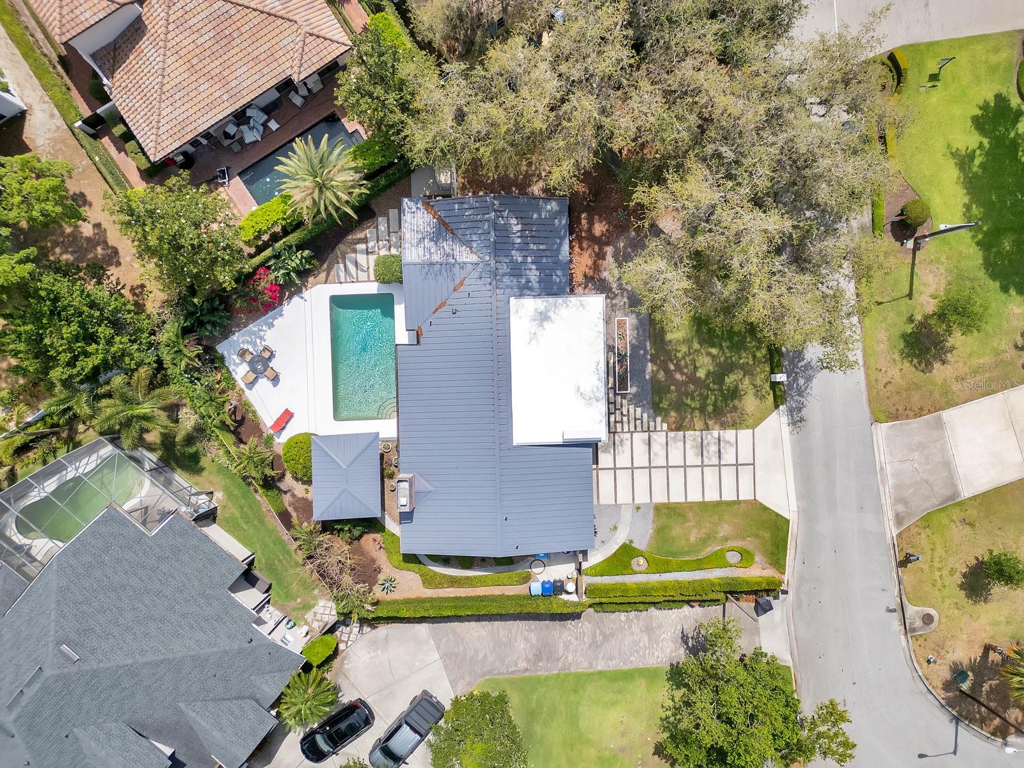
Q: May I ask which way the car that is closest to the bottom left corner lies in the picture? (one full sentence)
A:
I'd say the car that is closest to the bottom left corner is aligned on a diagonal in the picture.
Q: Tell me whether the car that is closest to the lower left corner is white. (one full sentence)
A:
No, the color of the car that is closest to the lower left corner is black.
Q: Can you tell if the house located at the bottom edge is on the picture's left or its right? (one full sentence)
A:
The house located at the bottom edge is on the left side of the image.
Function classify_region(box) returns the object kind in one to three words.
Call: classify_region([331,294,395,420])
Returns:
swimming pool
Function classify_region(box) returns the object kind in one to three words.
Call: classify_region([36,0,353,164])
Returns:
house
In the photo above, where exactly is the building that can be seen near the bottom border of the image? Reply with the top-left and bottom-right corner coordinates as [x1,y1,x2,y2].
[0,503,307,768]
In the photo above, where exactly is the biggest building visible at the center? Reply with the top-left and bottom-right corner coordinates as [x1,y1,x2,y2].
[394,194,607,558]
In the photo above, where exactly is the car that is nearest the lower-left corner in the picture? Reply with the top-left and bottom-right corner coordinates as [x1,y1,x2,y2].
[299,695,378,766]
